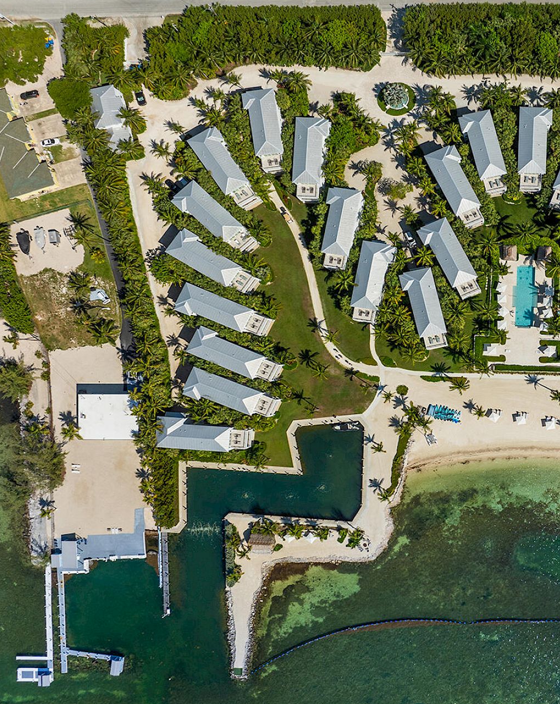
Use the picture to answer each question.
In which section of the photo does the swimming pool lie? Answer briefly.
right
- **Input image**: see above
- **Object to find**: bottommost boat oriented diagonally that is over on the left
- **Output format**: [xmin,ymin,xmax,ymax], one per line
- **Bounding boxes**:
[89,287,108,305]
